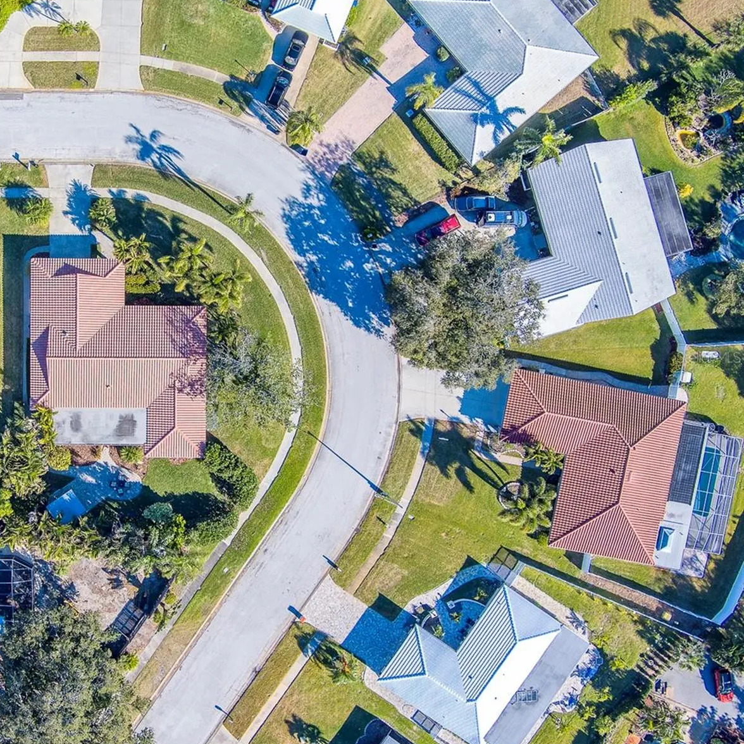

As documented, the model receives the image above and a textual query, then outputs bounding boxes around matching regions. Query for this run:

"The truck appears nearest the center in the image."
[413,215,460,244]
